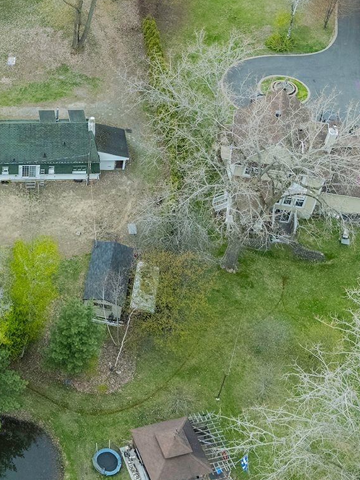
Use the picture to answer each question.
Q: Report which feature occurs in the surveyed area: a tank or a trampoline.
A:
trampoline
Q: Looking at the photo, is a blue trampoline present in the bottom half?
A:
Yes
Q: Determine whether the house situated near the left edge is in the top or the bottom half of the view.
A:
top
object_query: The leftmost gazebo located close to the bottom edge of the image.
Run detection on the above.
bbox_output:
[130,417,213,480]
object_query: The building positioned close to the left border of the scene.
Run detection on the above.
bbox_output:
[0,108,139,195]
